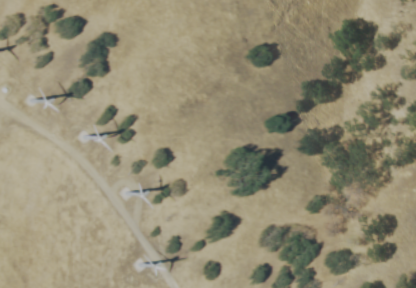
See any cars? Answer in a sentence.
No, I can't see a single car in this photo.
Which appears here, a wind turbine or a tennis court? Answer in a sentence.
There is a wind turbine in the scene.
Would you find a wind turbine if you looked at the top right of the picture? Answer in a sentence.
No, no wind turbine can be made out at the top right of the picture.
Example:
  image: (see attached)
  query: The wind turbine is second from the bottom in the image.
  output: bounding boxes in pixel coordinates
[120,183,149,207]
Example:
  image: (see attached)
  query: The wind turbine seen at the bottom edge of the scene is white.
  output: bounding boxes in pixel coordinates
[134,255,162,276]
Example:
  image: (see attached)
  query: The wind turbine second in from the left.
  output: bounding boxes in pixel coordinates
[78,124,107,148]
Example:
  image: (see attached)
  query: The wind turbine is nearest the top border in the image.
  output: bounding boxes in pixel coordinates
[25,86,52,108]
